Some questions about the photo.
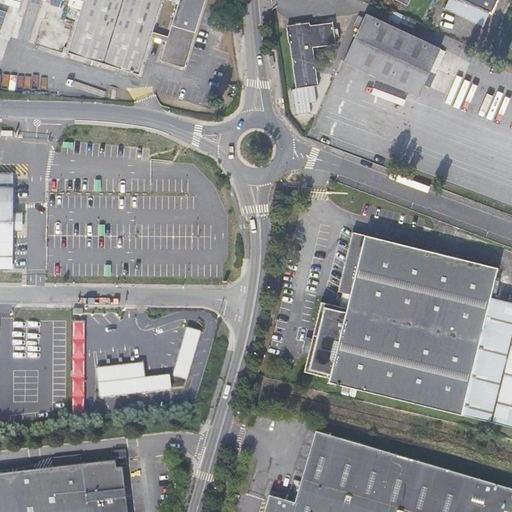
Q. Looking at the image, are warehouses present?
Yes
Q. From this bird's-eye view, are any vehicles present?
Yes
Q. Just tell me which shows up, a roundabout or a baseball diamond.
roundabout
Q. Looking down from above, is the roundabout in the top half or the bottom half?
top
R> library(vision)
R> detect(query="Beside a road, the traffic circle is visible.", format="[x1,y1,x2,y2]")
[218,110,296,188]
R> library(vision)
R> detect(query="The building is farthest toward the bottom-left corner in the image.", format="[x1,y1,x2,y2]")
[0,459,129,512]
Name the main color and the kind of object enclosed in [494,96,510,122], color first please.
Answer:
white vehicle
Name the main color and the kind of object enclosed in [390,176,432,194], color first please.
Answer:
white vehicle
